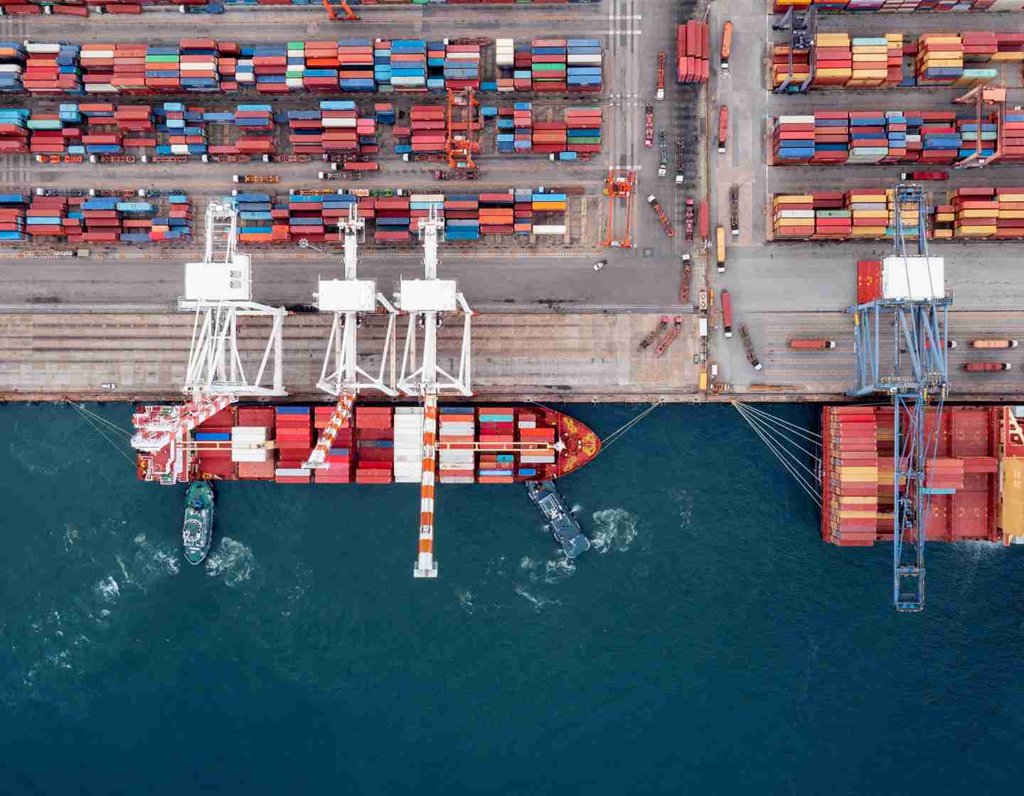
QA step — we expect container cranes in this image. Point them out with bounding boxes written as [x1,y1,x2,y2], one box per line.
[603,167,637,245]
[445,84,484,167]
[130,203,299,456]
[298,201,411,471]
[766,3,817,91]
[396,201,485,576]
[942,78,1005,168]
[831,186,955,610]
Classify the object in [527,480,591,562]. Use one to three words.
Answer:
boat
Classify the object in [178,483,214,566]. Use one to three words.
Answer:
boat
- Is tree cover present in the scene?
No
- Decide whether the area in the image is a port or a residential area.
port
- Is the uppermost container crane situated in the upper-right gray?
Yes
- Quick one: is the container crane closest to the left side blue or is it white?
white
